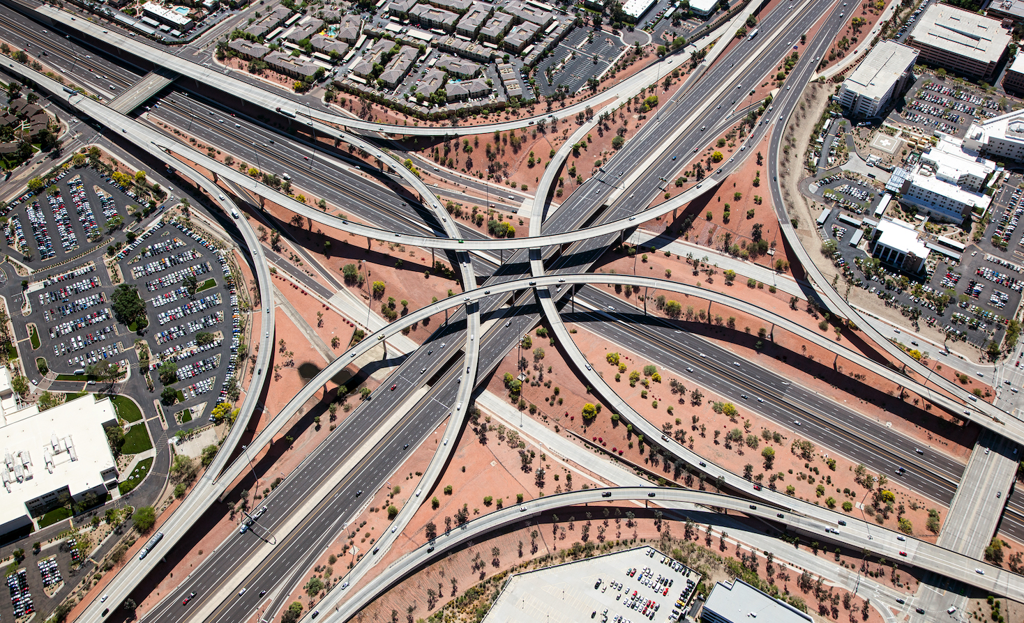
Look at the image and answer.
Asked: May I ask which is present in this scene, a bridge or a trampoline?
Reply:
bridge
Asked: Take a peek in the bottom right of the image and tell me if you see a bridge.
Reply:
Yes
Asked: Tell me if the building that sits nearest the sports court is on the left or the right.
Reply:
left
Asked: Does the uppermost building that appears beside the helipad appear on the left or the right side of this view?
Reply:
right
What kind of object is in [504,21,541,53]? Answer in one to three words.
building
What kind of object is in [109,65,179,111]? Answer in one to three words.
bridge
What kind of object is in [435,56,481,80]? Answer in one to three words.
building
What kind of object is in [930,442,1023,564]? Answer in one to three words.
bridge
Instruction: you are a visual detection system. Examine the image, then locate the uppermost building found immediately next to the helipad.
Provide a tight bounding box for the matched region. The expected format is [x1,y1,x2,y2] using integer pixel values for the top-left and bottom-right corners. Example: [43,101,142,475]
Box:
[837,38,921,119]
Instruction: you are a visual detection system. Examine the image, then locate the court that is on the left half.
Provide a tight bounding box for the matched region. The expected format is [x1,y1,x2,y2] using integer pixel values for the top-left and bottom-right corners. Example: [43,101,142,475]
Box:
[173,428,219,461]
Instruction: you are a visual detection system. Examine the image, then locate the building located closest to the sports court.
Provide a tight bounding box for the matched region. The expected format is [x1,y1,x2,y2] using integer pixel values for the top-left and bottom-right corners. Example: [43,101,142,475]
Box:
[0,394,123,536]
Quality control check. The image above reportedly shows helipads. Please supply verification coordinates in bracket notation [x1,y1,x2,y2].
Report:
[869,132,902,155]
